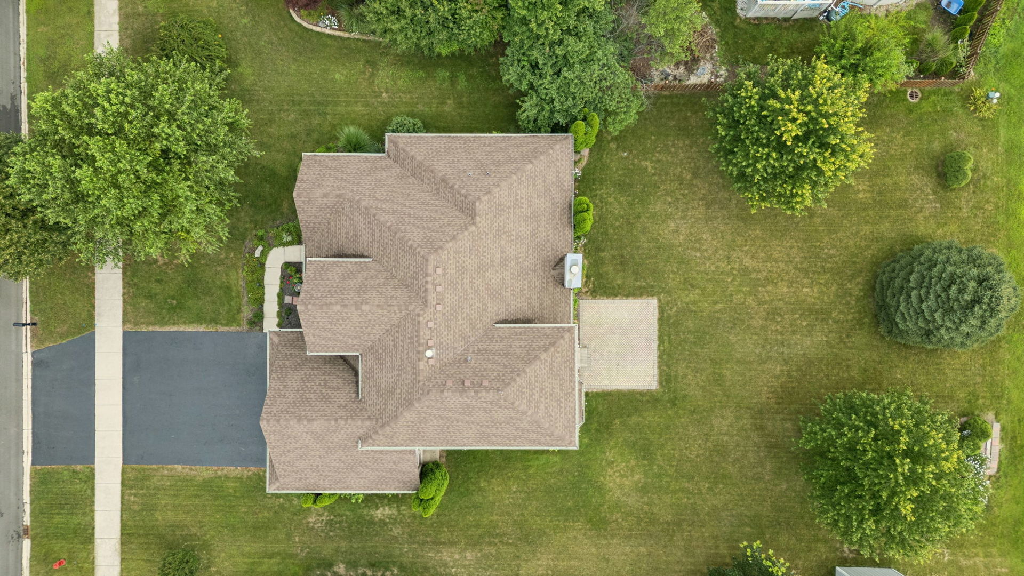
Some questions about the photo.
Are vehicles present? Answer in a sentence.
No, no vehicle is visible in the scene.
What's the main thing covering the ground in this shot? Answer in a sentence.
The largest share of the image is taken up by grass.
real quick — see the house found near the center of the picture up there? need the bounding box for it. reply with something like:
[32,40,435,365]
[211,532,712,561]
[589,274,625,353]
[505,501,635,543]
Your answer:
[261,133,585,493]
